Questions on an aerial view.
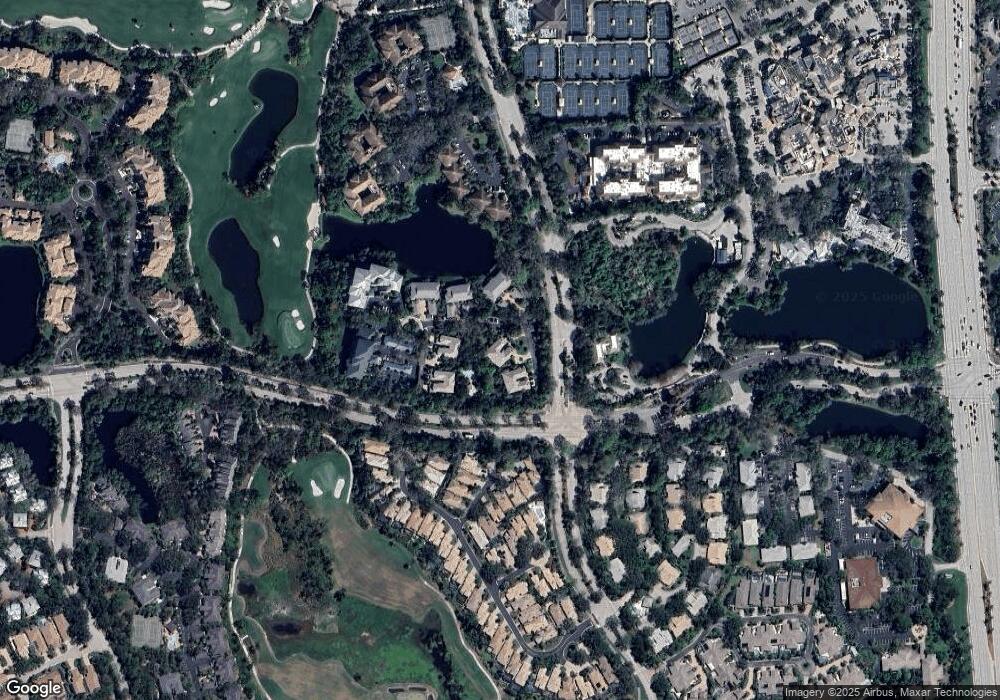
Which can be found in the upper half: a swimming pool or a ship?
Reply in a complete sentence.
The feature located in the upper half is a swimming pool.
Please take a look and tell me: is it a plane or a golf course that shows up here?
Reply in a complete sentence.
I can see a golf course in this picture.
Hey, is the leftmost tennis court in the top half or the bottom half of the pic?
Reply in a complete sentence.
The leftmost tennis court is in the top half of the image.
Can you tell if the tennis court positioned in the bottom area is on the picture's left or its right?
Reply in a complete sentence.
The tennis court positioned in the bottom area appears in the left half of the scene.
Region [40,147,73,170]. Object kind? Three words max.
swimming pool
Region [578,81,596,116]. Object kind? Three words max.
tennis court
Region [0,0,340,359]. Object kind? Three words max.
golf course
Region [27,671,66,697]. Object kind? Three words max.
house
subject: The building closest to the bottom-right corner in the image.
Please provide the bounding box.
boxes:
[925,652,950,693]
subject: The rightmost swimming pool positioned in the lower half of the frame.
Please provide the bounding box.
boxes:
[531,501,545,527]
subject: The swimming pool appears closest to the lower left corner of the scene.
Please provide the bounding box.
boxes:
[164,630,180,651]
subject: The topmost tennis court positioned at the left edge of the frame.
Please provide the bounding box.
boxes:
[5,120,33,152]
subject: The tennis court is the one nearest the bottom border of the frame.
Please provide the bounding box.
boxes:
[131,615,162,647]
